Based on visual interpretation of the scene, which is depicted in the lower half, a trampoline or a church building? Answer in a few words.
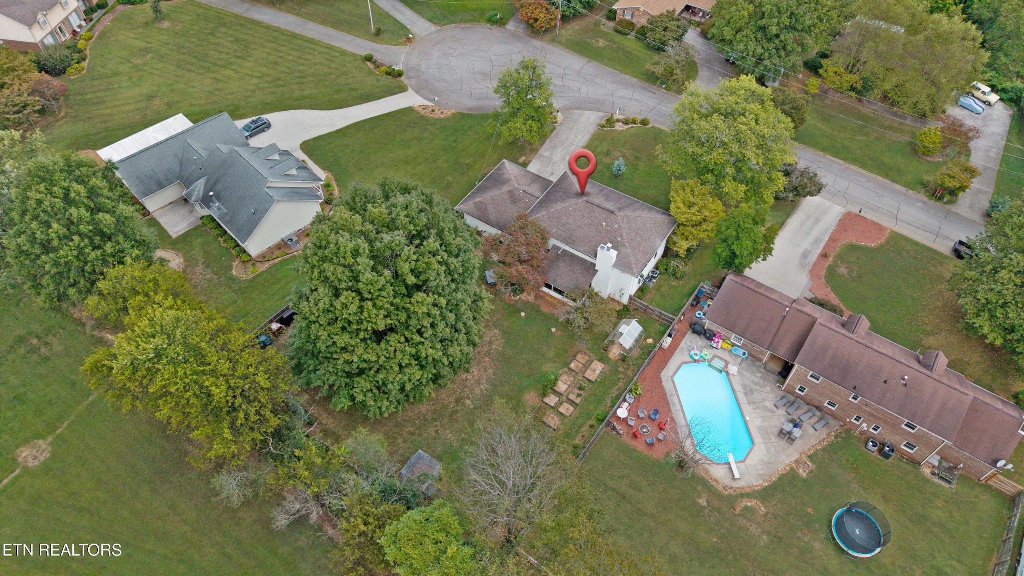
trampoline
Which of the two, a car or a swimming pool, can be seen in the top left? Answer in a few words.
car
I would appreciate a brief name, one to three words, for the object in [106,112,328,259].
house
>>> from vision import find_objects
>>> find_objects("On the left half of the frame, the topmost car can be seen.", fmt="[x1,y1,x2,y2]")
[238,114,271,138]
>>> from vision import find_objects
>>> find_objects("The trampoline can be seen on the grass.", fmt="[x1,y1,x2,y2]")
[826,502,892,564]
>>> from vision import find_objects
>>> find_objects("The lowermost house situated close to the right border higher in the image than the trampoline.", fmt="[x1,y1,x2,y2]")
[703,270,1024,480]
